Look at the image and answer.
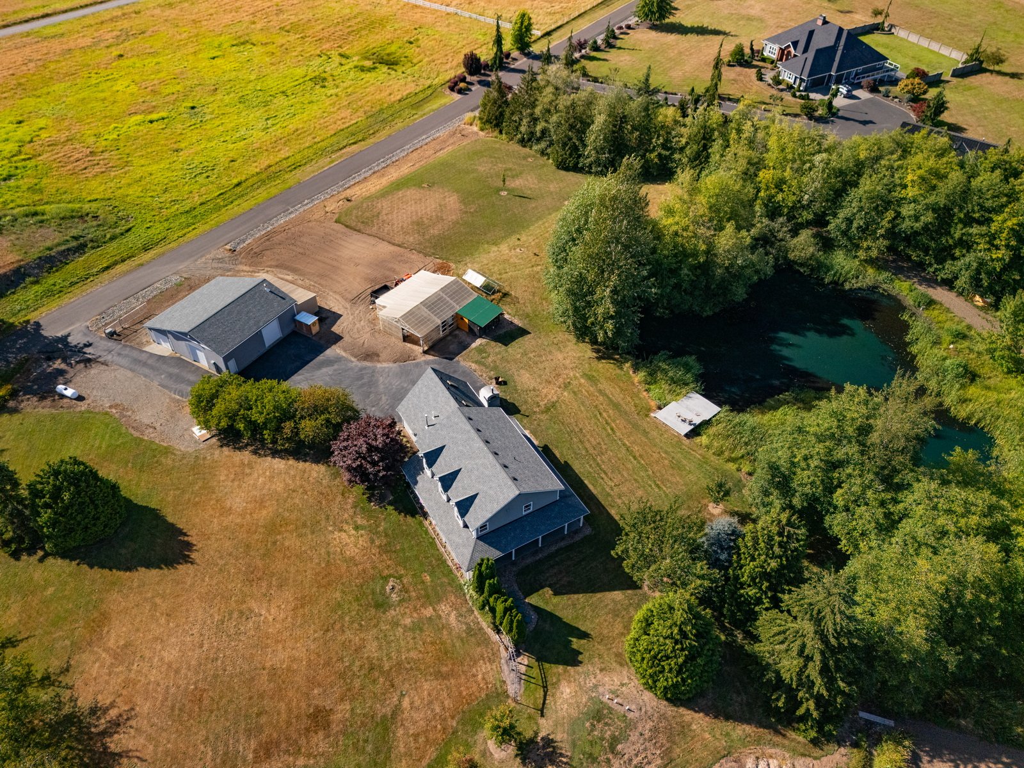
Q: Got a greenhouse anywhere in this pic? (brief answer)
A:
Yes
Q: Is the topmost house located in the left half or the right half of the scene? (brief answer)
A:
right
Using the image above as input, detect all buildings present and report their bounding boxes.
[395,367,591,581]
[372,272,479,353]
[757,11,907,92]
[143,277,299,380]
[888,123,1000,171]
